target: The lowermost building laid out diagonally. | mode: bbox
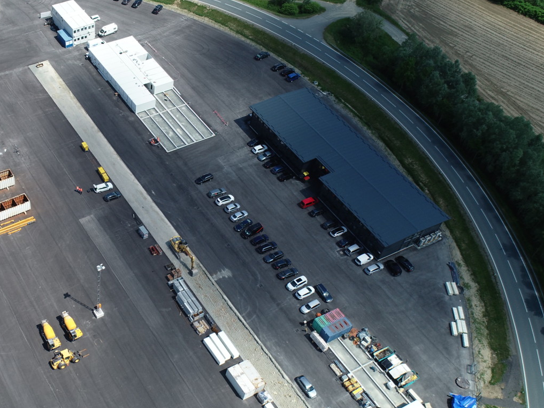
[244,89,450,260]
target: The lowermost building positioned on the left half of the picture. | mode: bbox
[87,36,174,113]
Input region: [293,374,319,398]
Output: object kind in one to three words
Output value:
car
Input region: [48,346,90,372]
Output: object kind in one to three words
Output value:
work vehicle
